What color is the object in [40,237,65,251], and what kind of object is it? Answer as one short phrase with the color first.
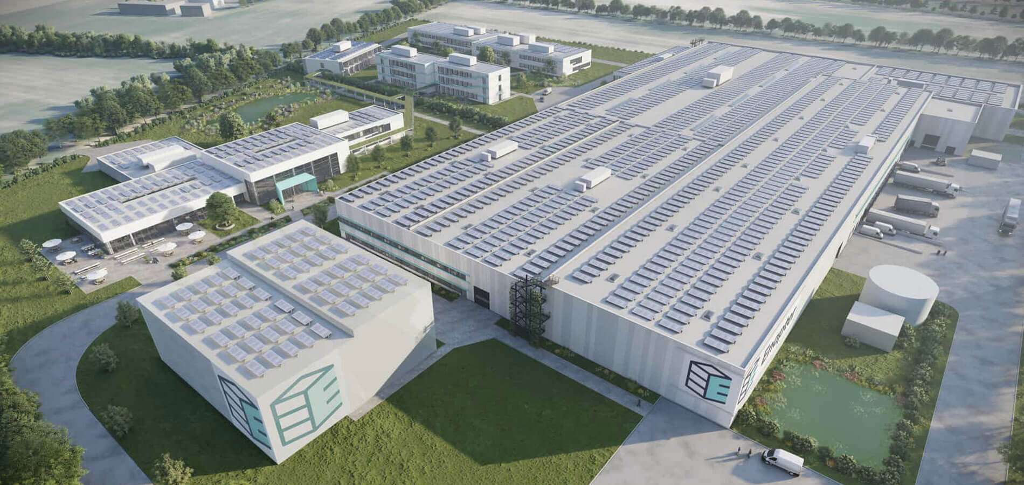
white umbrella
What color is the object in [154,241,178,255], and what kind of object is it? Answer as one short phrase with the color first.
white umbrella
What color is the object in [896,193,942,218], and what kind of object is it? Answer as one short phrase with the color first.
gray truck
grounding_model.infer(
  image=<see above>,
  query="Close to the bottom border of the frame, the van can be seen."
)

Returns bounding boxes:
[763,448,806,479]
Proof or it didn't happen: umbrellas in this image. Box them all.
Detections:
[54,250,80,264]
[84,267,109,282]
[40,237,65,251]
[173,221,195,234]
[154,241,178,255]
[185,230,208,243]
